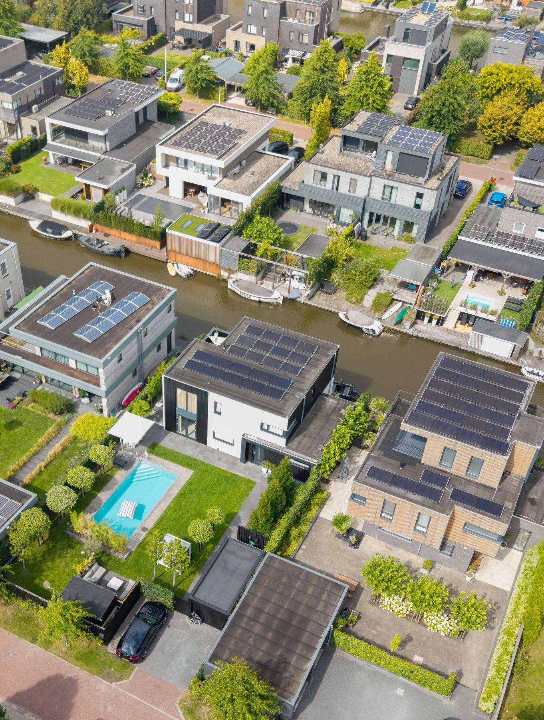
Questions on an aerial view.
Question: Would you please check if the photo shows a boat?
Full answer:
Yes, a boat can be made out from above.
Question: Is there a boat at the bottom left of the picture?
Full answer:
No, the scene shows no boat at the bottom left of the picture.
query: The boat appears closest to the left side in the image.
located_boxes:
[29,219,78,242]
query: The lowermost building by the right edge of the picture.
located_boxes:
[347,351,544,572]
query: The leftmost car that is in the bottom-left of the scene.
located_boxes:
[116,599,171,664]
